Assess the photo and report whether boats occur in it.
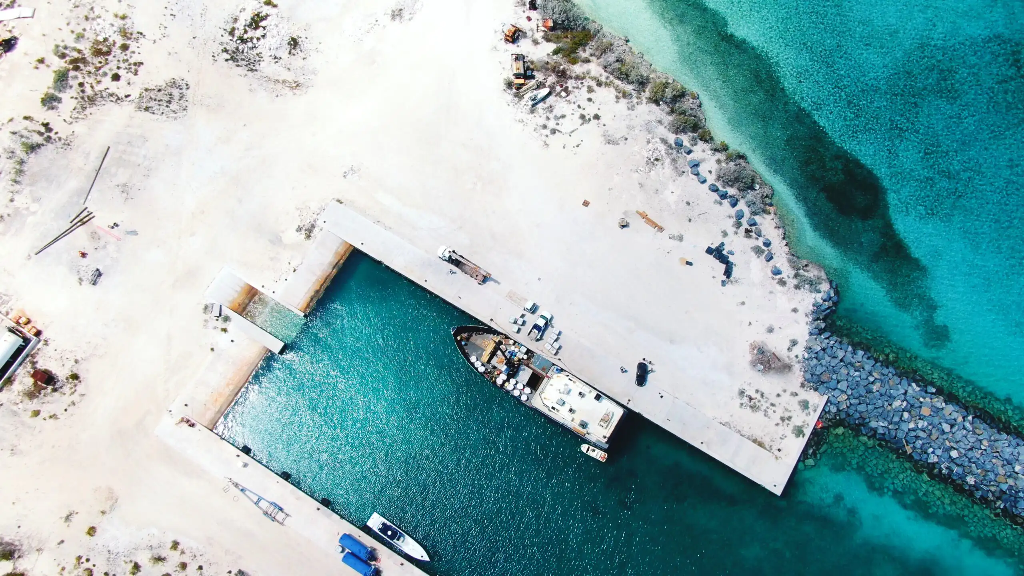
Yes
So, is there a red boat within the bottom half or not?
No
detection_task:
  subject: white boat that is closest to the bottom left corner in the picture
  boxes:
[367,512,431,561]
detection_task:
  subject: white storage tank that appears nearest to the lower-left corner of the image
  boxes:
[0,326,32,378]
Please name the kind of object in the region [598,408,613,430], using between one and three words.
boat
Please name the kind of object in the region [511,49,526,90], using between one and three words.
vehicle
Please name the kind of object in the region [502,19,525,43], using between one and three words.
work vehicle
